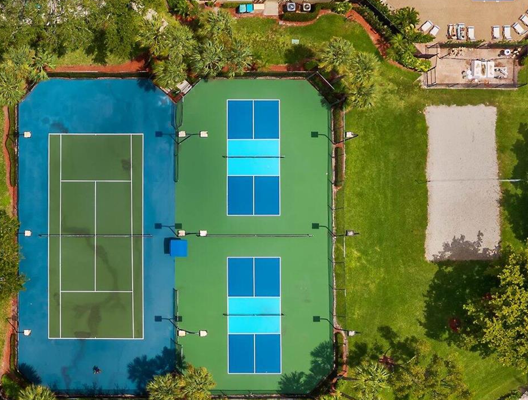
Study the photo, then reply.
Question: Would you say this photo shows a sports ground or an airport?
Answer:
sports ground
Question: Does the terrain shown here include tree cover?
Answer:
Yes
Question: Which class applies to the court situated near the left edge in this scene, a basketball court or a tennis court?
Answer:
tennis court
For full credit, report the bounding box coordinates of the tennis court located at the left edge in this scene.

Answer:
[17,79,176,397]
